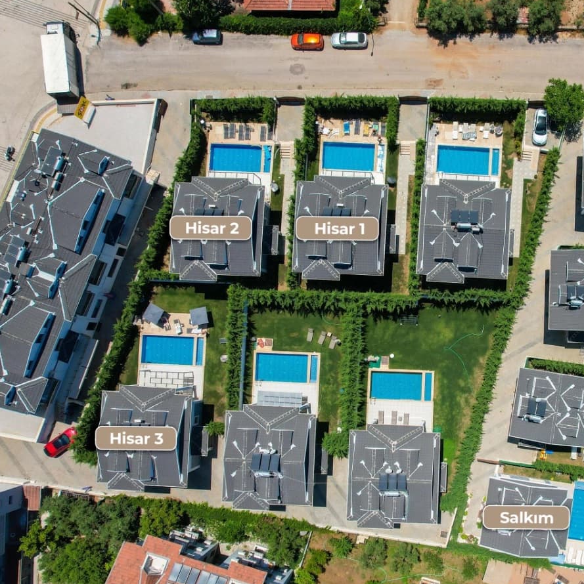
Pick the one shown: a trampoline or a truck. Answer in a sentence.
The one in the frame is a truck.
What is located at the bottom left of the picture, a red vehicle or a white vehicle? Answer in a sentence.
You can see a red vehicle at the bottom left of the picture.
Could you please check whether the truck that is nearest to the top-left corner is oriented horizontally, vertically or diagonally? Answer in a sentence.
In this picture, the truck that is nearest to the top-left corner lies vertically.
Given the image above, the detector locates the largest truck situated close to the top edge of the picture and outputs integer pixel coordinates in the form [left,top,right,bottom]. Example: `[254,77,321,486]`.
[41,20,83,102]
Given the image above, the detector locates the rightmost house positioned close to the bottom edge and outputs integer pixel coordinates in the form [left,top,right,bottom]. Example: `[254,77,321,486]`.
[477,464,575,566]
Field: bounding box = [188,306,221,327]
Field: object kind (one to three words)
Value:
umbrella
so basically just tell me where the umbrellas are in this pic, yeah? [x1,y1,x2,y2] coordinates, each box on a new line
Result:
[140,301,176,327]
[188,306,221,327]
